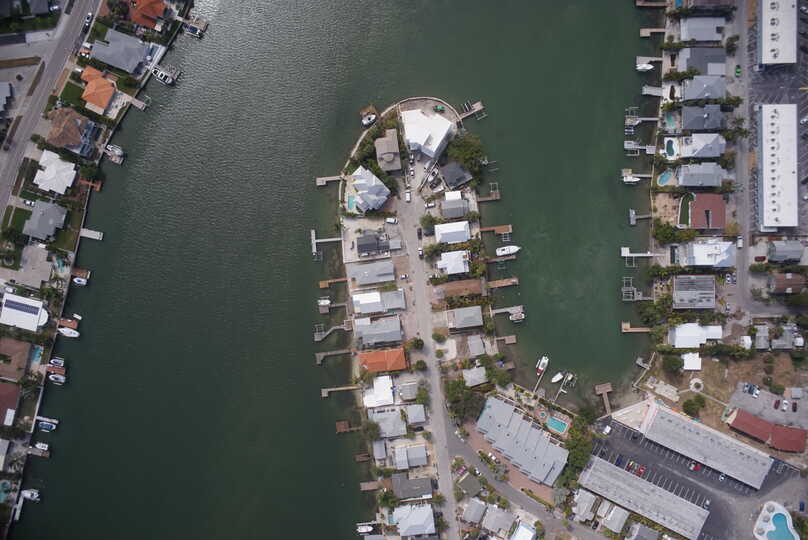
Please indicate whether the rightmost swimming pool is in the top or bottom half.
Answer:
bottom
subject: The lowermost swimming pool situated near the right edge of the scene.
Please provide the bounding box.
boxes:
[766,512,795,540]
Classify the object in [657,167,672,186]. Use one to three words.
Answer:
swimming pool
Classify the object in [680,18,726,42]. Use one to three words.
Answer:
house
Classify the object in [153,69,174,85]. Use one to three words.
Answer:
boat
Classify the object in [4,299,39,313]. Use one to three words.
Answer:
solar panel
